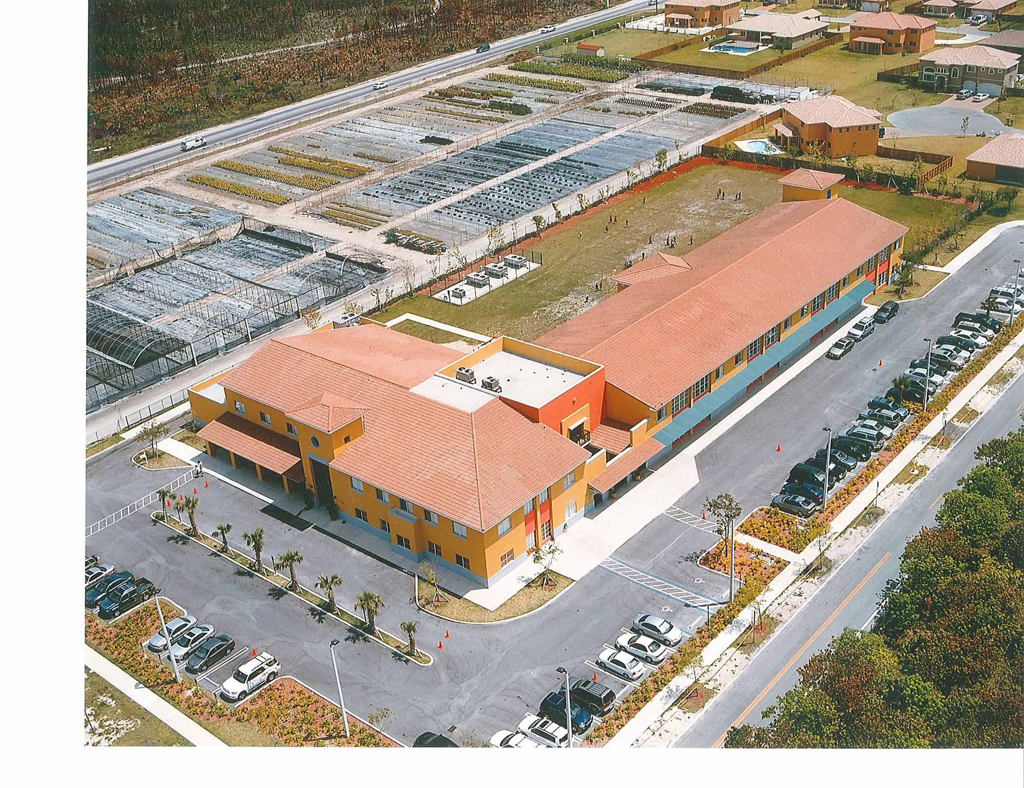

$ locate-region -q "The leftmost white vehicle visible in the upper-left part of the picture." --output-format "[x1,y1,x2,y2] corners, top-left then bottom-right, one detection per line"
[180,136,206,149]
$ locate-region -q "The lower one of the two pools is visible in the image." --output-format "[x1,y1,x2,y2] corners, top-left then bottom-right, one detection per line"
[733,138,789,154]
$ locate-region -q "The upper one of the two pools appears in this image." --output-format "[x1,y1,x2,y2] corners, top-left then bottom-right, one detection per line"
[698,40,773,56]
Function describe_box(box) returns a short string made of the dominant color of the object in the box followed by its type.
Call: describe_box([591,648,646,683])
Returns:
white car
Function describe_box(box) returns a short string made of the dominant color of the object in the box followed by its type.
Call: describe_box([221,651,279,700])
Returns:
white car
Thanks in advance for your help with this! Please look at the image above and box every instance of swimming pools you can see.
[733,138,789,154]
[698,40,773,56]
